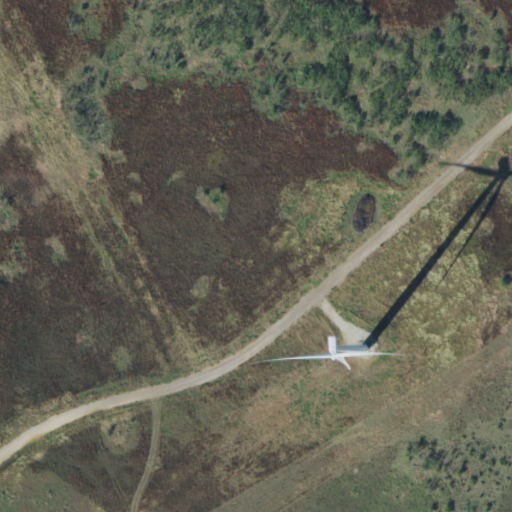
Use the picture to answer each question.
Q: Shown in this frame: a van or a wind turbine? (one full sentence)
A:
The one in the frame is a wind turbine.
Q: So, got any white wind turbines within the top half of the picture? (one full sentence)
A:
No, I can find no white wind turbine within the top half of the picture.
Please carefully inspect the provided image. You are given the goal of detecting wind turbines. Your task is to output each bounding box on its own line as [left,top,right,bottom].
[254,335,402,368]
